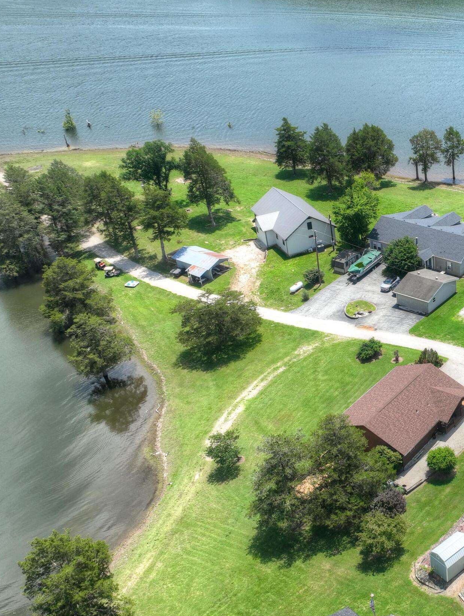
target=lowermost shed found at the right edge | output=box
[430,533,464,582]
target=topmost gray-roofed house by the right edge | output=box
[367,204,464,276]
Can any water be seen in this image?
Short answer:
Yes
